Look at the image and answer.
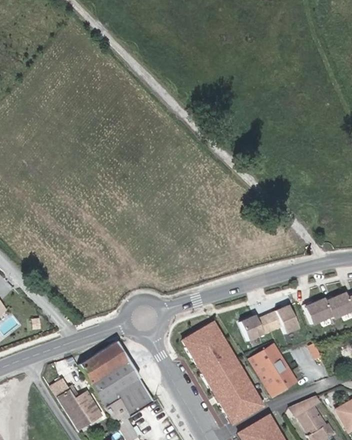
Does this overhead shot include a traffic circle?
Yes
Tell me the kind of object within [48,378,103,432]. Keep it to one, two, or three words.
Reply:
house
